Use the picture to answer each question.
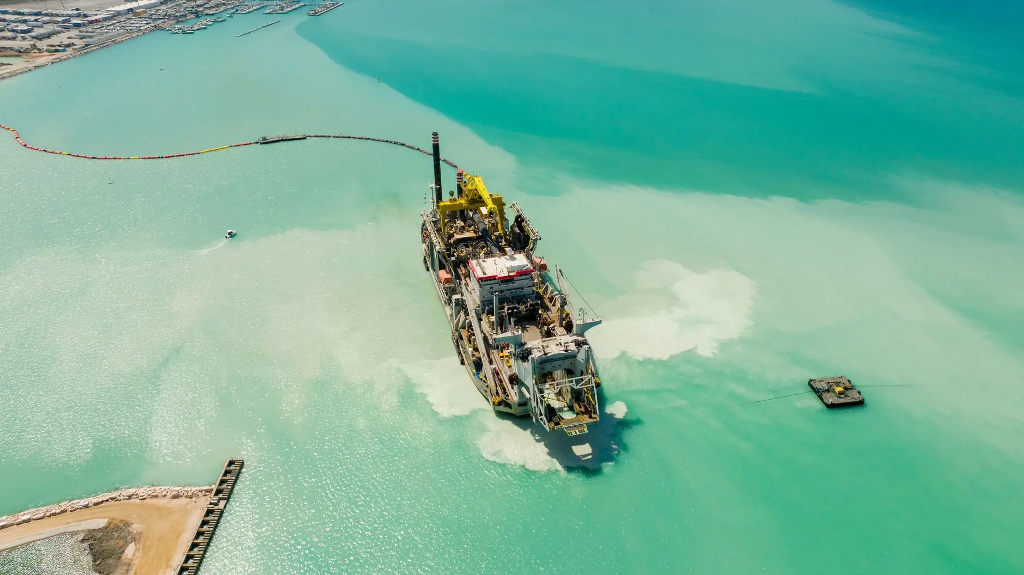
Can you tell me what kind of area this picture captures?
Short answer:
port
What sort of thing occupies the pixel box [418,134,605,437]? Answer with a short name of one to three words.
ship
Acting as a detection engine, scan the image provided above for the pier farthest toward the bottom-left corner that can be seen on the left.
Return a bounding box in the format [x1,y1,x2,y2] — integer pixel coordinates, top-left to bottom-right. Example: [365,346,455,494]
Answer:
[181,458,249,575]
